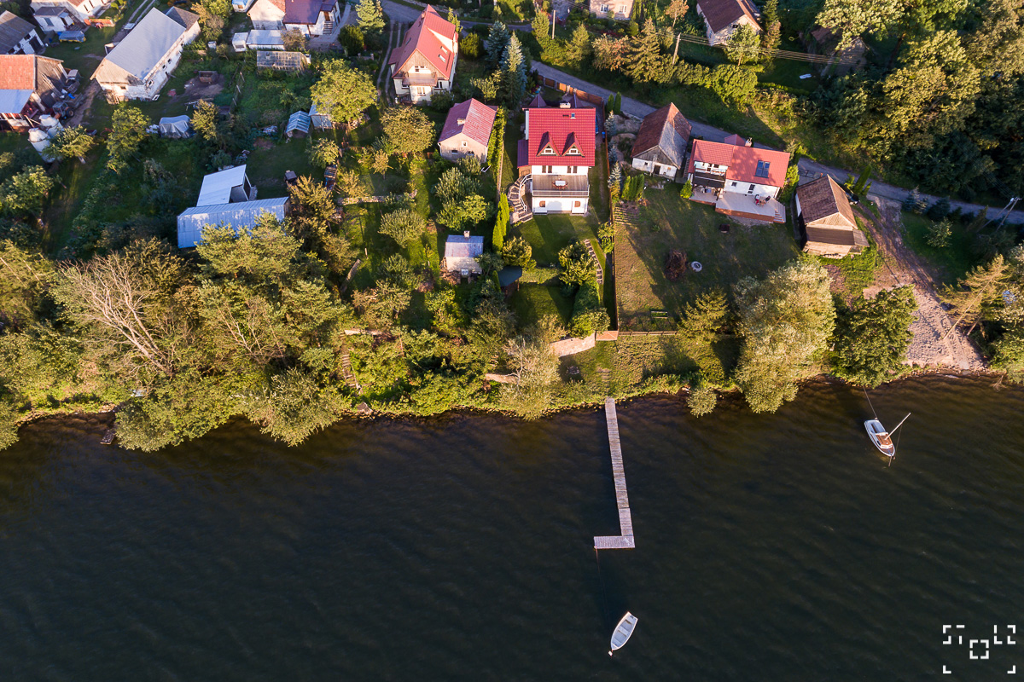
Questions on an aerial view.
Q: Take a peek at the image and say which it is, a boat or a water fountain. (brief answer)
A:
boat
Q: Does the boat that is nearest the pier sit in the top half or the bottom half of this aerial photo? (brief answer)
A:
bottom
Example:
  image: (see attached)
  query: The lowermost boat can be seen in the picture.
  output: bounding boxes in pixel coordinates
[612,611,639,651]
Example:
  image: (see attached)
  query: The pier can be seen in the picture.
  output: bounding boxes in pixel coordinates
[594,398,635,551]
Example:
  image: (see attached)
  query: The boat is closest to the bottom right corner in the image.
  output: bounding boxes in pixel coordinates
[864,408,903,465]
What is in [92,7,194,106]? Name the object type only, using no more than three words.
barn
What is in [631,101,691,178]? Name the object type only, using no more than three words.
barn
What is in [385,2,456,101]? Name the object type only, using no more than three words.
house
